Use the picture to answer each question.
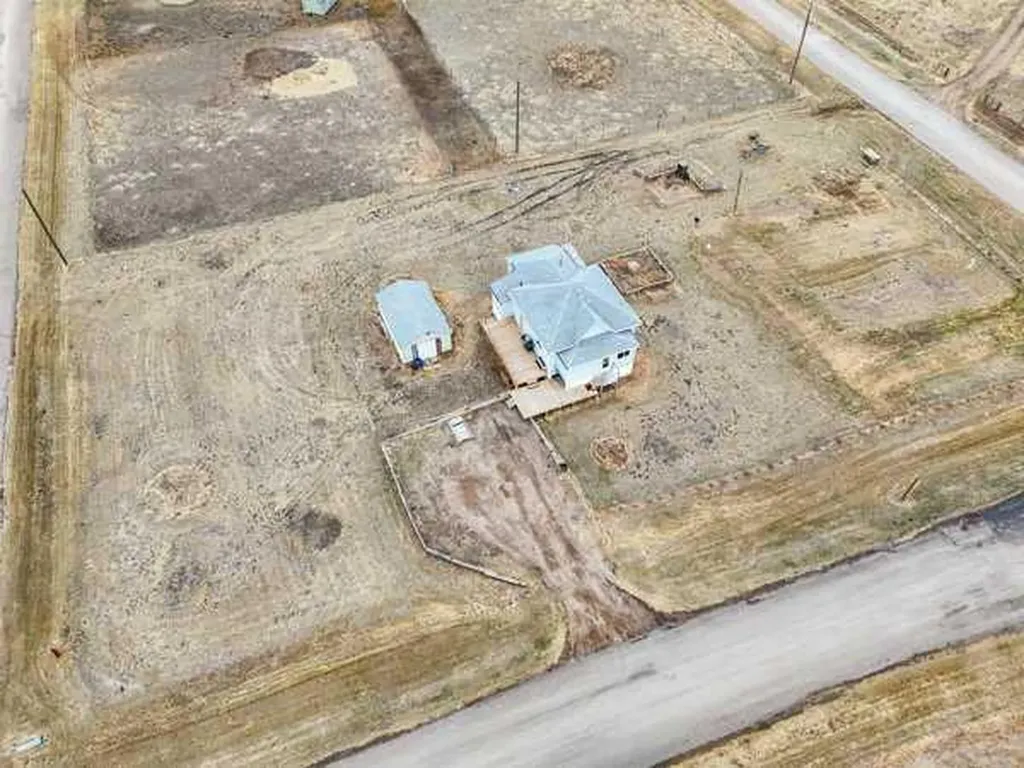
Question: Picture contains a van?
No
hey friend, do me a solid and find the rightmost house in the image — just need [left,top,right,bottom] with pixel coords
[488,241,645,387]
